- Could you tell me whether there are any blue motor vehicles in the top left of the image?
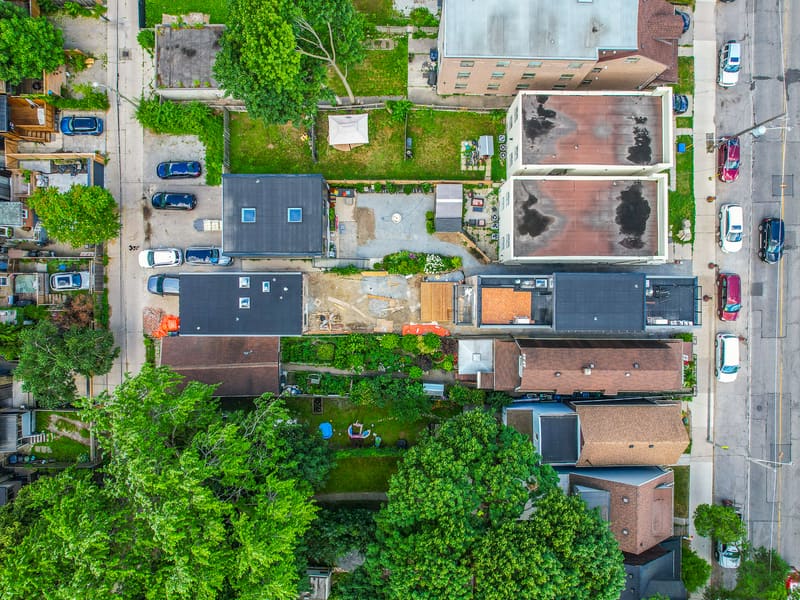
Yes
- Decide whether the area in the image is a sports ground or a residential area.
residential area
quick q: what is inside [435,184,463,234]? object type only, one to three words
shed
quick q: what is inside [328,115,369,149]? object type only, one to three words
gazebo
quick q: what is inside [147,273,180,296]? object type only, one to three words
car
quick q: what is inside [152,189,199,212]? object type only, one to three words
car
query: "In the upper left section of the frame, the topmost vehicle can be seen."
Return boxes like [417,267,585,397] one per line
[60,113,105,138]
